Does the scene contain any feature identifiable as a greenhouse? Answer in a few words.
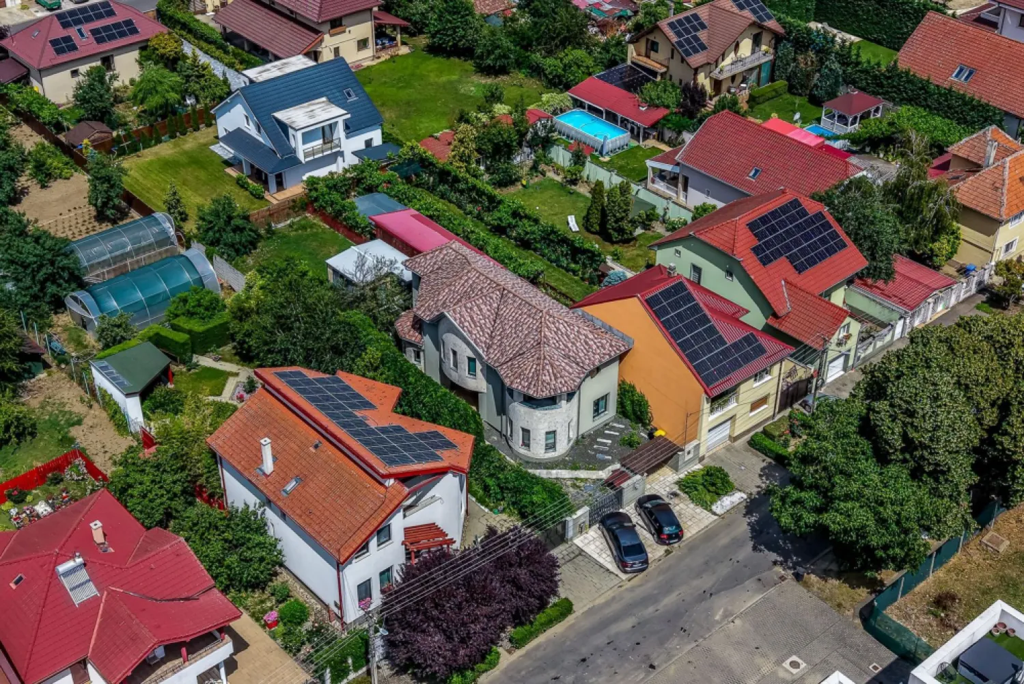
Yes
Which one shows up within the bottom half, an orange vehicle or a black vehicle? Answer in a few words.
black vehicle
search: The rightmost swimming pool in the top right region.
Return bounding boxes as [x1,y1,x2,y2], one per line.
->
[803,124,839,146]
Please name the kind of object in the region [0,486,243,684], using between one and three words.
house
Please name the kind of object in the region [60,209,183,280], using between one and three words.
greenhouse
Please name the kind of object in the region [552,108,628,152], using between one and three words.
swimming pool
